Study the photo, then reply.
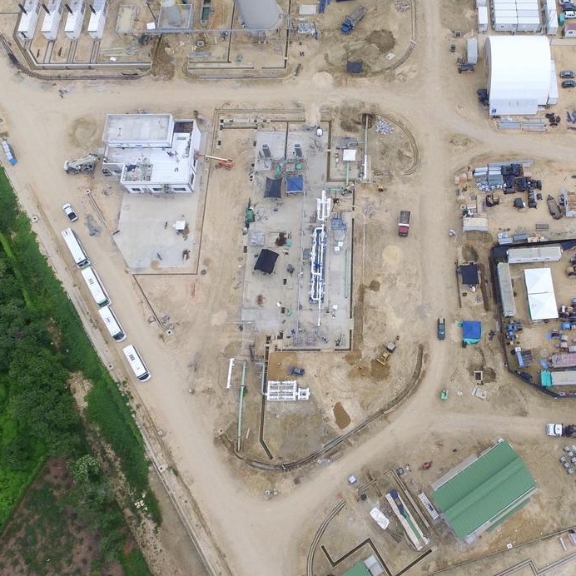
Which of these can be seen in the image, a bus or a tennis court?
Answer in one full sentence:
It is a bus that can be seen here.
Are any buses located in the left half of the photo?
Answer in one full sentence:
Yes, you'll find a bus in the left half of the photo.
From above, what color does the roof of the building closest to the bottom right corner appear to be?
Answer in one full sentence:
The roof over the building closest to the bottom right corner appears green.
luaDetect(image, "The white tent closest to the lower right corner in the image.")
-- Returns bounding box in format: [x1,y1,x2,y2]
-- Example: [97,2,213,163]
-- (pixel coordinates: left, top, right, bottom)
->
[523,267,558,322]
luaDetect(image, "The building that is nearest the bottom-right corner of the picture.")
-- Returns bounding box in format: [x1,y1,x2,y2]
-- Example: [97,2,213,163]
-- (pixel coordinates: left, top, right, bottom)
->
[431,440,535,540]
